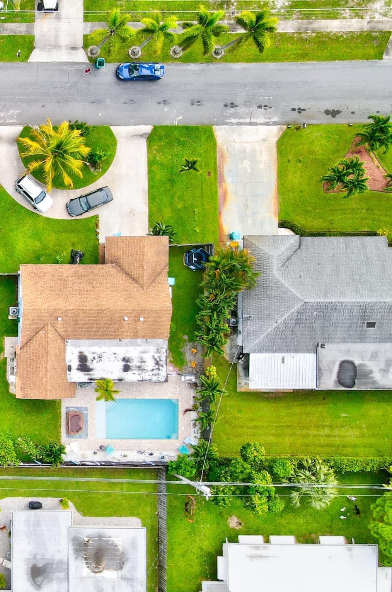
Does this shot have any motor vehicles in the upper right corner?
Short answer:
No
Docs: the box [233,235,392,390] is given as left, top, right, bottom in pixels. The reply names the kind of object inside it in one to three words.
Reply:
house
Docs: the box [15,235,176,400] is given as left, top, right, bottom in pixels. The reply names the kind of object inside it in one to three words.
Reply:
house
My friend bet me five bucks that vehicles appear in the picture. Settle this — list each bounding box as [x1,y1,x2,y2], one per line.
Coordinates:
[11,176,54,214]
[116,58,165,82]
[37,0,62,14]
[65,185,117,218]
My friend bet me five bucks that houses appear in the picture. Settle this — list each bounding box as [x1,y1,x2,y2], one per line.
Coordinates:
[0,510,146,592]
[198,535,392,592]
[233,235,392,390]
[15,235,176,400]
